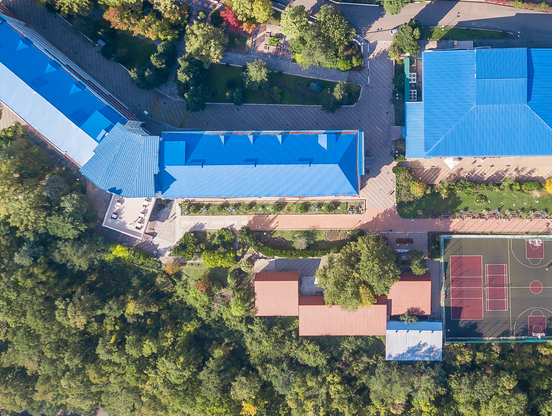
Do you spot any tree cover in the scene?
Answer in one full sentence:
Yes, tree cover can be seen from above here.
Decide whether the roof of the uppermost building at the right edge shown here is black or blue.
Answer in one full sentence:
From above, the roof of the uppermost building at the right edge appears blue.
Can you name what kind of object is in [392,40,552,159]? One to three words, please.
building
